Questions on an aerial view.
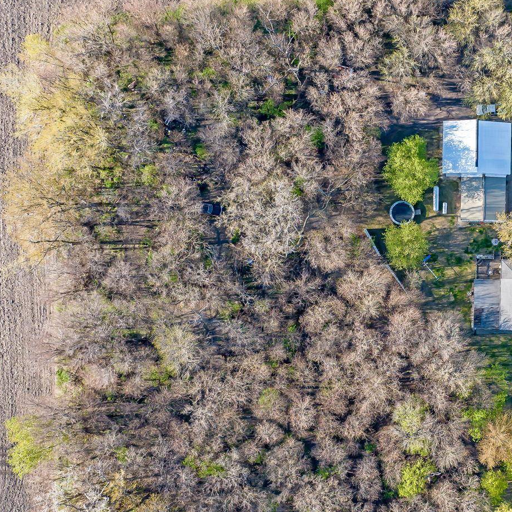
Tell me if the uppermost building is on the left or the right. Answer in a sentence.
The uppermost building sits on the right side.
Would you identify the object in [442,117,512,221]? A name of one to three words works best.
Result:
building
